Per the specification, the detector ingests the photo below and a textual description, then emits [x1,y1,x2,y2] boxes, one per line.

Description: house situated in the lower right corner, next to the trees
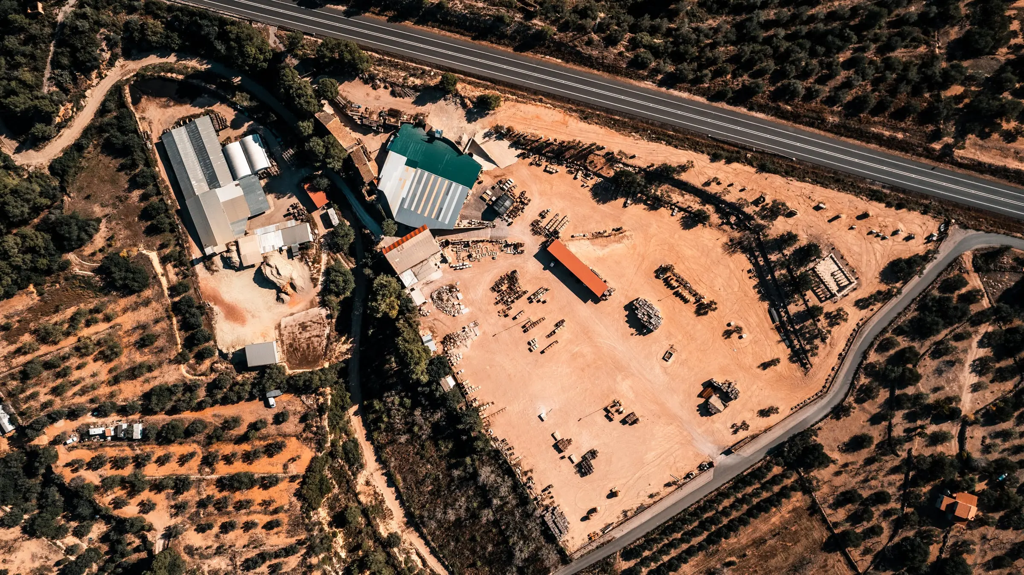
[935,490,978,526]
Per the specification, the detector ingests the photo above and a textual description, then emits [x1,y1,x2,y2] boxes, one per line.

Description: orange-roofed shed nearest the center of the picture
[547,240,608,297]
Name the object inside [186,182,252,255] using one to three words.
shed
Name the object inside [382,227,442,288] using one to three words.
building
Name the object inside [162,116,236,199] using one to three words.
shed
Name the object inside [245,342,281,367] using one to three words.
barn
